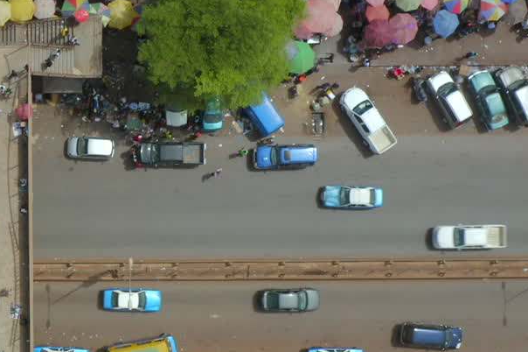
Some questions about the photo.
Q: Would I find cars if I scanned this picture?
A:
Yes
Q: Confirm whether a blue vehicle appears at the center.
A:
Yes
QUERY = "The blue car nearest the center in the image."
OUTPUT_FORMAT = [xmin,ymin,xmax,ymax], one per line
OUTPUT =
[250,141,317,172]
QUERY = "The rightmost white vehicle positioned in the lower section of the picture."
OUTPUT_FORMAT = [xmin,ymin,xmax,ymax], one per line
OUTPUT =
[430,222,506,251]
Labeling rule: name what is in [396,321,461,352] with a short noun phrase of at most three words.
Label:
car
